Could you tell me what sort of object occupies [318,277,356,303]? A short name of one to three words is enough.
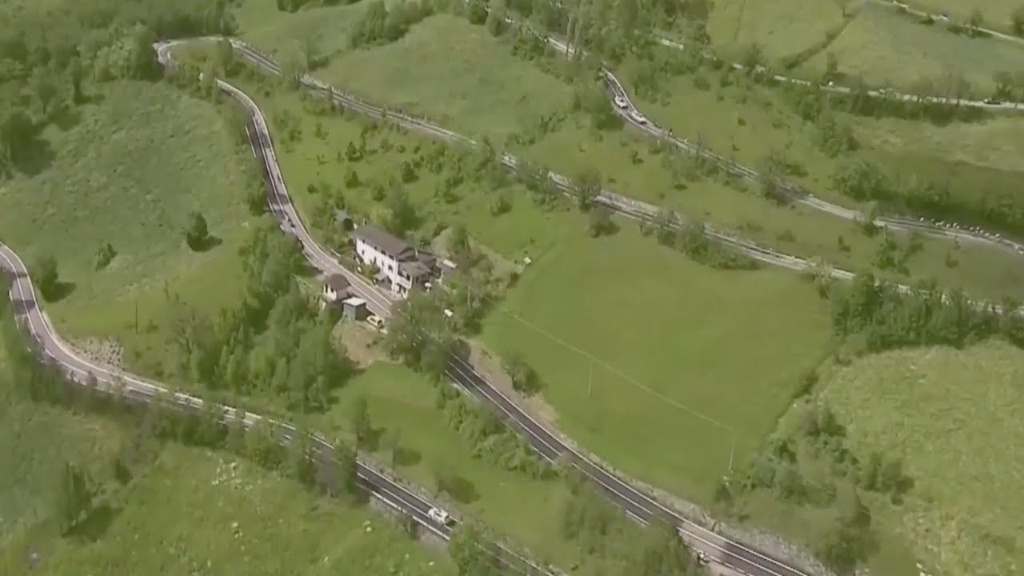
shed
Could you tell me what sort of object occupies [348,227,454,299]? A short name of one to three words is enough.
house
